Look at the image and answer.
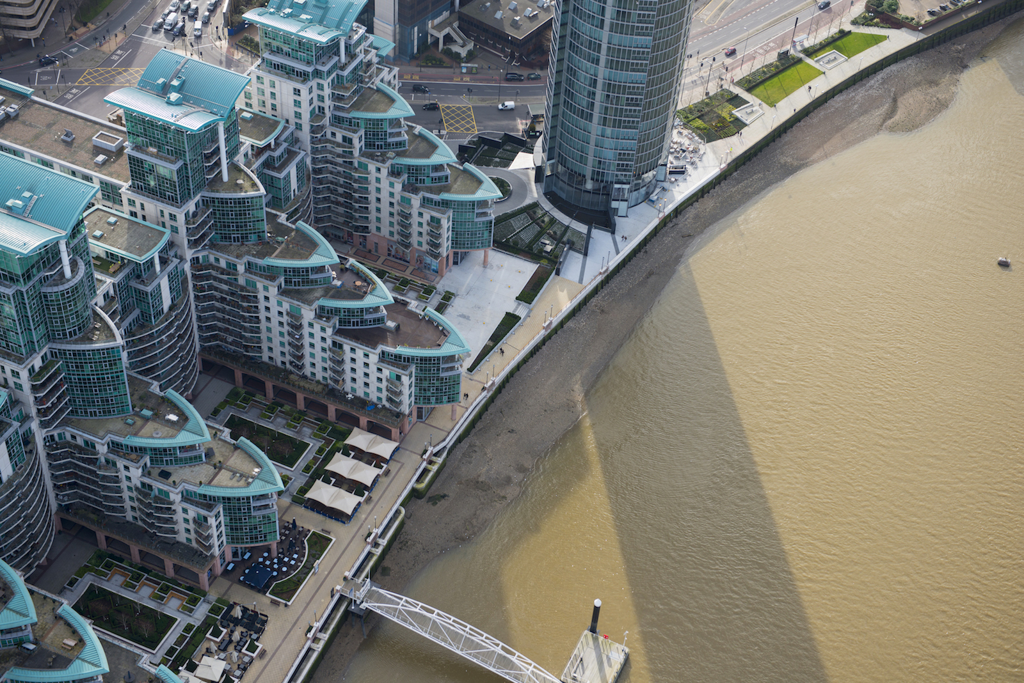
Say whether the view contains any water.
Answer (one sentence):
Yes, water shows up in the scene.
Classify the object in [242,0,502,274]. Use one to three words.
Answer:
building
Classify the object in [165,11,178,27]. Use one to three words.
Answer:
vehicle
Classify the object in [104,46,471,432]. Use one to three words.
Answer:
building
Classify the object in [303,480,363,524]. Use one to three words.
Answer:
tent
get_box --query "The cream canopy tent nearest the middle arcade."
[344,428,400,468]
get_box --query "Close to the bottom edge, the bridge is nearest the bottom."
[362,583,567,683]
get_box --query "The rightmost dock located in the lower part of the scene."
[558,625,632,683]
